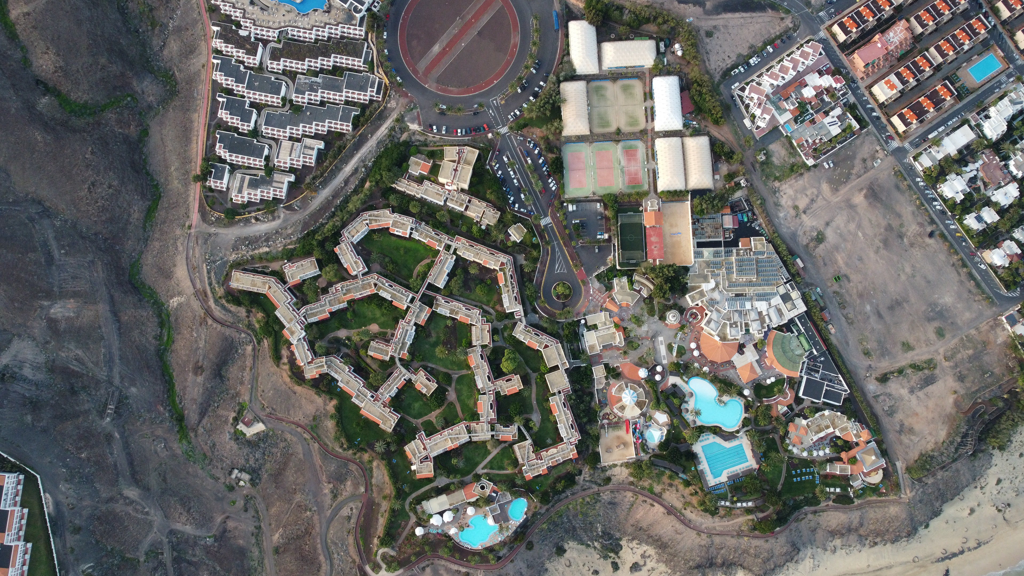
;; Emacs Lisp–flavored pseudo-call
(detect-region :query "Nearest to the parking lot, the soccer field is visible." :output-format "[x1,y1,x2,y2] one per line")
[618,211,646,262]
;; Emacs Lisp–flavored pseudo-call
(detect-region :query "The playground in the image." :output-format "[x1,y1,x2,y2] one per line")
[599,417,642,464]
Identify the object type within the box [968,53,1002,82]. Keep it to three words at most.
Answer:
swimming pool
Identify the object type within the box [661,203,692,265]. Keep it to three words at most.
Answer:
sports court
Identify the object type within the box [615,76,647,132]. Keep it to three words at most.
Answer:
tennis court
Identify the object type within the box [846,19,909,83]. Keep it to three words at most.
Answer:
house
